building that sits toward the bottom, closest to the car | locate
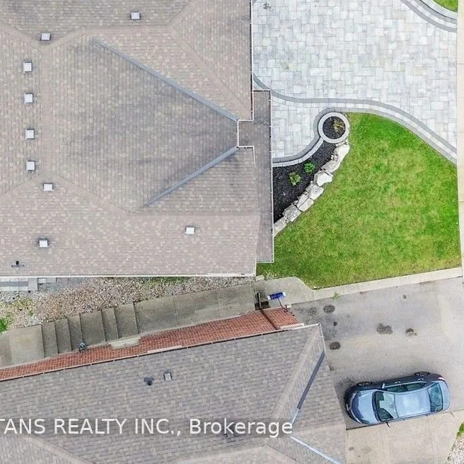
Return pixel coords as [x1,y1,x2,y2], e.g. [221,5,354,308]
[0,292,350,464]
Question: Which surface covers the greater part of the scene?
buildings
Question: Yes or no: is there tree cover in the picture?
No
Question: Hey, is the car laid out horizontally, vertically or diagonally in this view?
horizontally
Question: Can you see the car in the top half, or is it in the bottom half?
bottom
